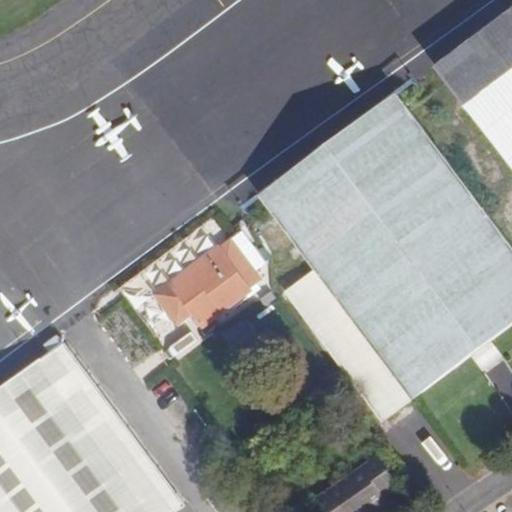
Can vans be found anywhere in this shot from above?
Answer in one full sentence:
Yes, there's a van here.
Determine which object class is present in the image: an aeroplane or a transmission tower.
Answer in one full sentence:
There is an aeroplane in the scene.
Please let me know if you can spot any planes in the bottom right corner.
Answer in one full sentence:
No, the scene shows no plane in the bottom right corner.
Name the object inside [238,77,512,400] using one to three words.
hangar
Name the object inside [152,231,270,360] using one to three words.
house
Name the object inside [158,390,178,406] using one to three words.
car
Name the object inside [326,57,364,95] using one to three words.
airplane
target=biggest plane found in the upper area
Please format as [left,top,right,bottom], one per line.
[86,109,140,163]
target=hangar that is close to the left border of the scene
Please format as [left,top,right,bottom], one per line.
[0,336,186,512]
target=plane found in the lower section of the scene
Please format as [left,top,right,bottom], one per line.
[0,292,36,336]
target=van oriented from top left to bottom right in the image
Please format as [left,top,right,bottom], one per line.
[422,436,452,469]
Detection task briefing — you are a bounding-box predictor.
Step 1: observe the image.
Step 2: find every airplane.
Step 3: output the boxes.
[86,109,140,163]
[326,57,364,95]
[0,292,36,336]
